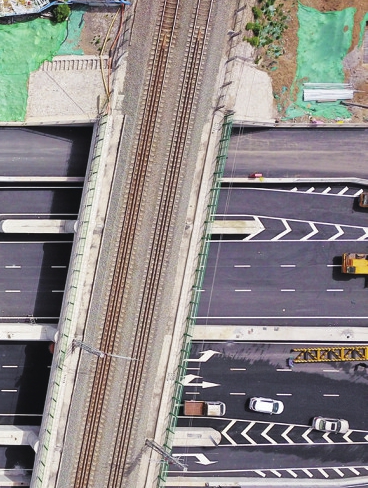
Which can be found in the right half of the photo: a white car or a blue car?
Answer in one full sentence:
The one visible in the right half of the photo is a white car.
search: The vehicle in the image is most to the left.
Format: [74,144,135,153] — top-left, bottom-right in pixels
[184,400,226,419]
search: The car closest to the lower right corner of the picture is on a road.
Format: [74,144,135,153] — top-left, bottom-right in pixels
[310,415,349,433]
